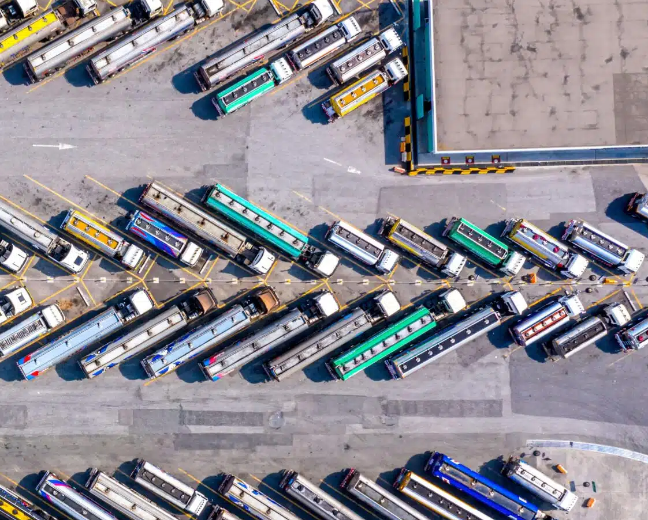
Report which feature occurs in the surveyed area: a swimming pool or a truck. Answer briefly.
truck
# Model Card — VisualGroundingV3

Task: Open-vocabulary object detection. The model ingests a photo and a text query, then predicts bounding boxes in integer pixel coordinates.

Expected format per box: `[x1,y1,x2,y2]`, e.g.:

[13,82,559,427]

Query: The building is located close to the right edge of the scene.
[414,0,648,156]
